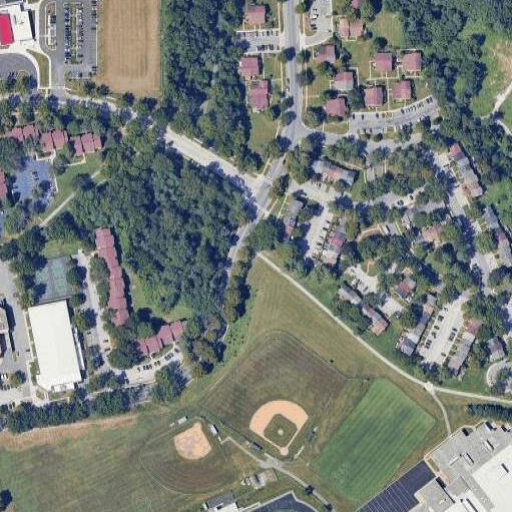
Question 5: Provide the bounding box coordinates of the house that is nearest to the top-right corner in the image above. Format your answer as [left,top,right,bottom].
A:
[402,54,422,73]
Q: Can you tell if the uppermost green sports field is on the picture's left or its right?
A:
right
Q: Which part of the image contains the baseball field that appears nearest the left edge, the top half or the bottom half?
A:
bottom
